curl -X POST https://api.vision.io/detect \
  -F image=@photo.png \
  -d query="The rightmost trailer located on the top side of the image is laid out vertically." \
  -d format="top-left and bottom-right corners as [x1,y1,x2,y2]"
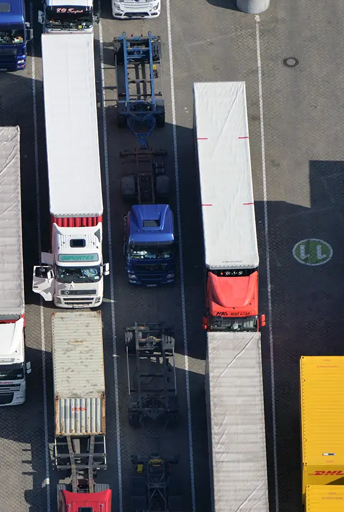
[192,82,259,312]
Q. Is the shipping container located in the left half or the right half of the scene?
left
